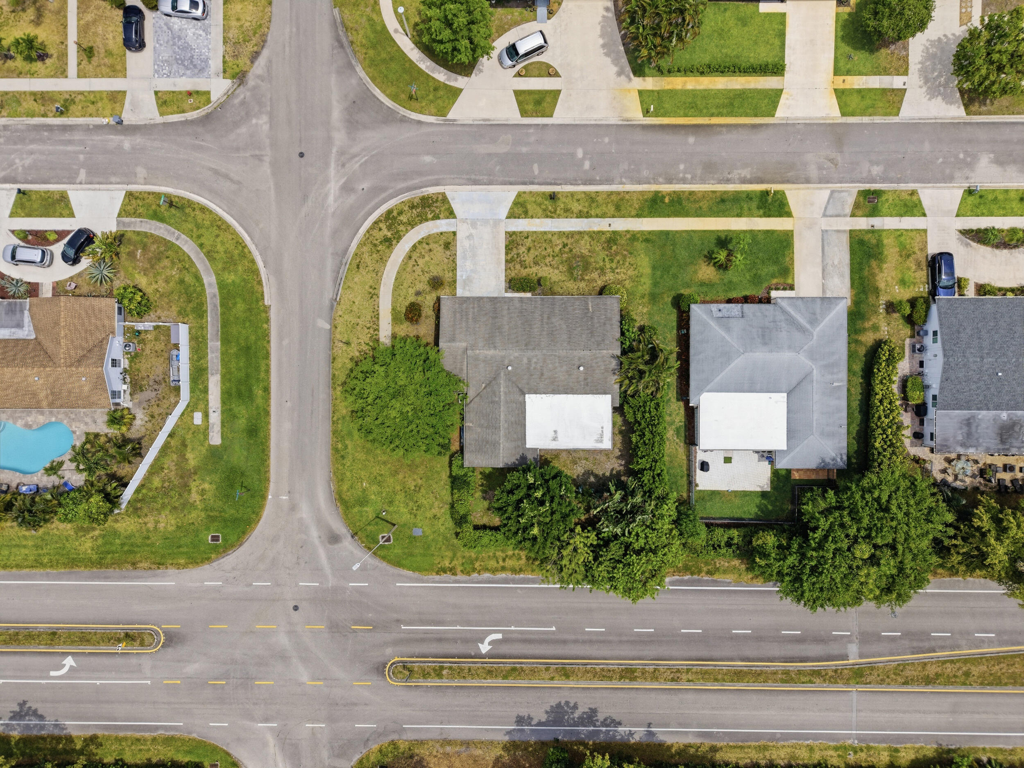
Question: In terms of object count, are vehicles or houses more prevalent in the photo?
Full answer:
The vehicles are the larger group, ahead of the houses.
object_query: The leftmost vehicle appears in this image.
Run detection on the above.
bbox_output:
[1,242,54,268]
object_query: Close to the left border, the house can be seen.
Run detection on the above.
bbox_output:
[0,295,134,412]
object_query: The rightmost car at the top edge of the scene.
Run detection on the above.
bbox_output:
[496,26,551,70]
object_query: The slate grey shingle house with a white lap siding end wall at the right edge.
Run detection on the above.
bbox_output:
[919,296,1024,456]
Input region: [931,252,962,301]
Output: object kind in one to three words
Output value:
car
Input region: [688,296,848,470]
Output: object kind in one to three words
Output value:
house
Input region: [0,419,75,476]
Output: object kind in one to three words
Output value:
swimming pool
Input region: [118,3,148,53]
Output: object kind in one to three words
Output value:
car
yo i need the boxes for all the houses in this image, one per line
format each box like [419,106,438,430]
[439,295,623,469]
[0,295,134,412]
[919,296,1024,456]
[688,296,848,470]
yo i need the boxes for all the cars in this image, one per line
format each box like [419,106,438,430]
[156,0,209,20]
[118,3,148,53]
[1,242,54,268]
[60,224,94,267]
[931,252,962,301]
[496,26,551,70]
